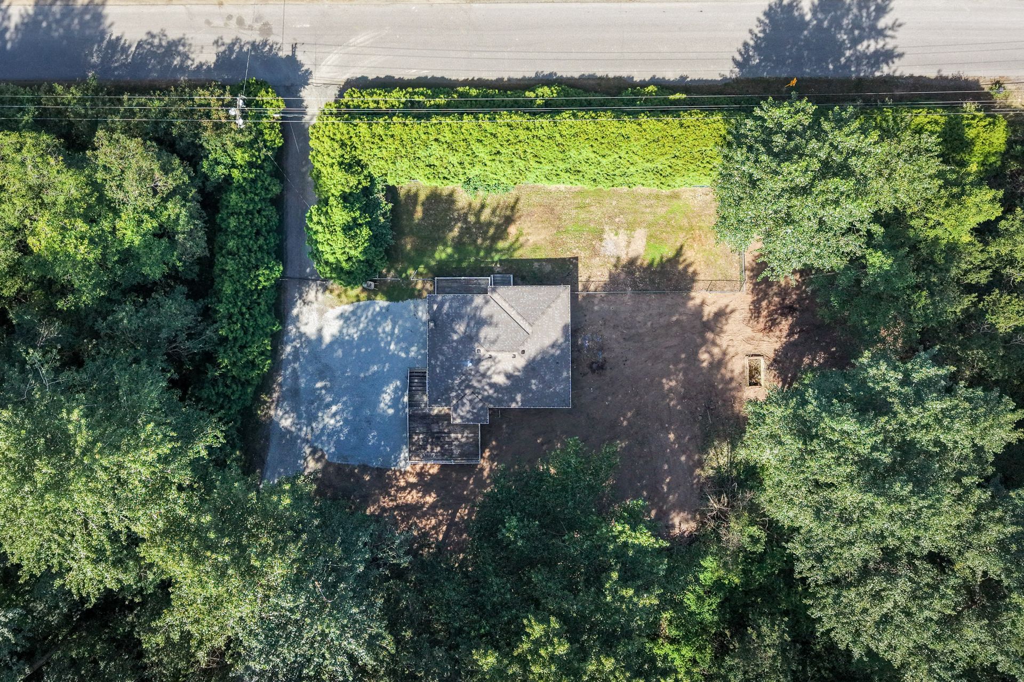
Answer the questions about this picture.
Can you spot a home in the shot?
Yes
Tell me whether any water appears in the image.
No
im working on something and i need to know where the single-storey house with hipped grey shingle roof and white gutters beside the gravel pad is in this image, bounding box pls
[426,285,572,425]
